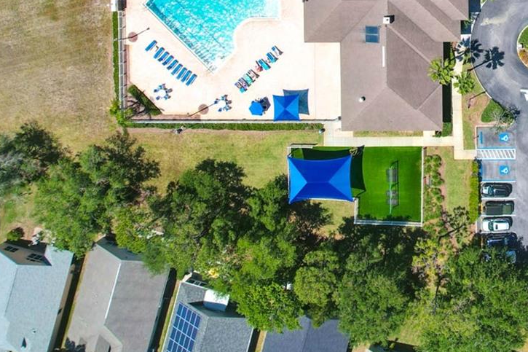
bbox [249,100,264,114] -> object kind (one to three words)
umbrella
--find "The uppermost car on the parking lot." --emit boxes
[482,183,511,197]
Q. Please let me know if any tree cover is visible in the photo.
Yes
